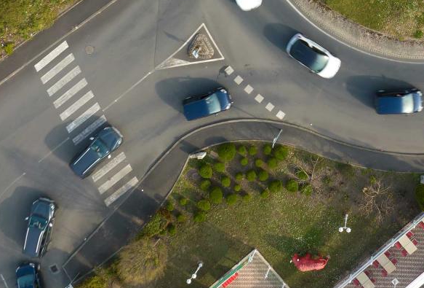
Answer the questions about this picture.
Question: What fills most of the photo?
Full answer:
What you mostly see from above here is paved ground.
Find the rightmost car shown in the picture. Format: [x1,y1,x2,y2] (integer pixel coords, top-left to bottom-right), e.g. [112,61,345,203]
[373,87,424,116]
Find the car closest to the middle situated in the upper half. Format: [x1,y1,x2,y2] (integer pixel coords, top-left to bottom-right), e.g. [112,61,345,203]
[180,85,233,124]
